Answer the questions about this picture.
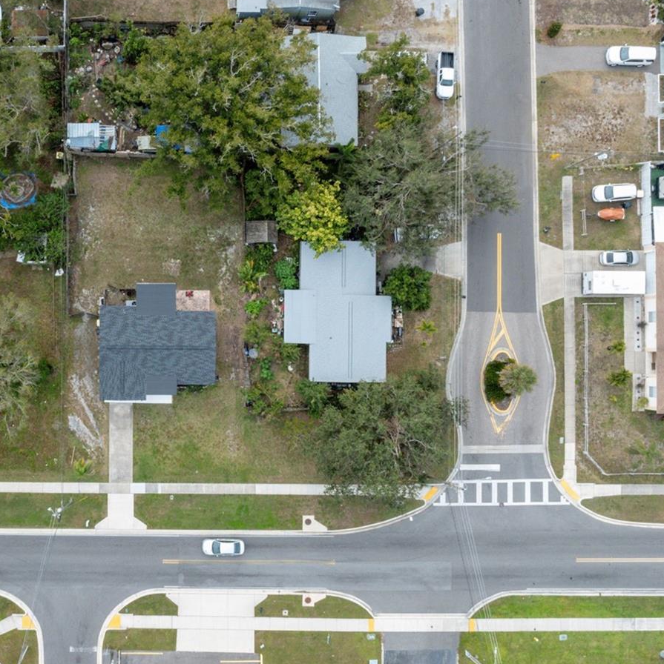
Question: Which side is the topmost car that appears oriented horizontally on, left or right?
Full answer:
The topmost car that appears oriented horizontally appears in the right half of the scene.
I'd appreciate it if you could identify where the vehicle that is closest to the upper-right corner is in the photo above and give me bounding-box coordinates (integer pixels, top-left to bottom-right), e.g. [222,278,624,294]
[605,44,658,66]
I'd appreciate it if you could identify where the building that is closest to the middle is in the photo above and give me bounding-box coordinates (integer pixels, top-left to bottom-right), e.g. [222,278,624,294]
[284,242,391,382]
